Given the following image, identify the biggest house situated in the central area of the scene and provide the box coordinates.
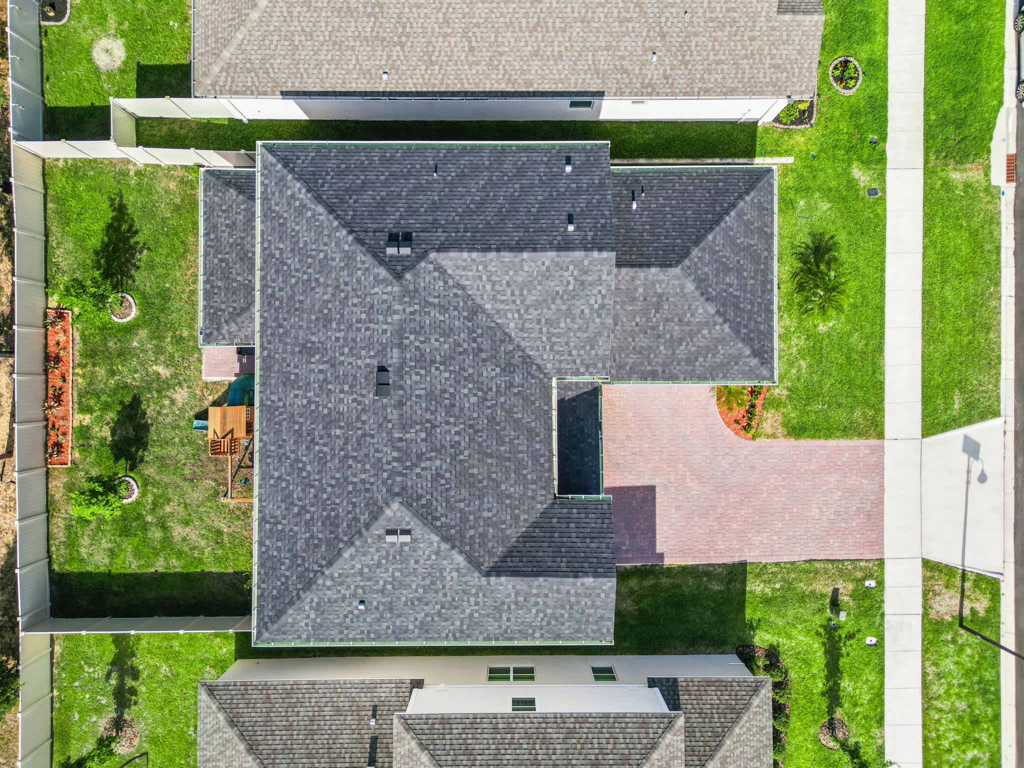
[198,140,779,647]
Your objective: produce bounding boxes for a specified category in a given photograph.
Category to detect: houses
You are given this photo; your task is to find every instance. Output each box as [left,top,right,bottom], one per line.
[198,140,779,647]
[189,0,828,121]
[196,656,773,768]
